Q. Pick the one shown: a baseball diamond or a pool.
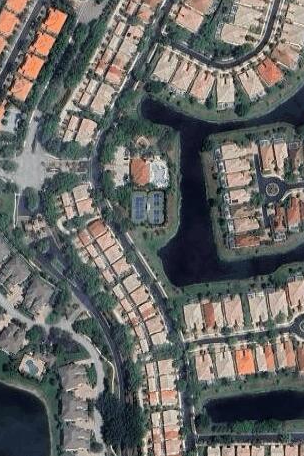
pool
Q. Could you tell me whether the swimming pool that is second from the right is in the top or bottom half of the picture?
bottom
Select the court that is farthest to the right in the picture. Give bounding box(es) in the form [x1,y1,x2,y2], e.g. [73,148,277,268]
[149,190,164,224]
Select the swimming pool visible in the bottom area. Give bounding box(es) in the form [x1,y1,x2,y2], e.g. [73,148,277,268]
[20,355,45,380]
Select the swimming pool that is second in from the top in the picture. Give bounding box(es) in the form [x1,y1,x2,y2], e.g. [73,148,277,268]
[150,159,169,188]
